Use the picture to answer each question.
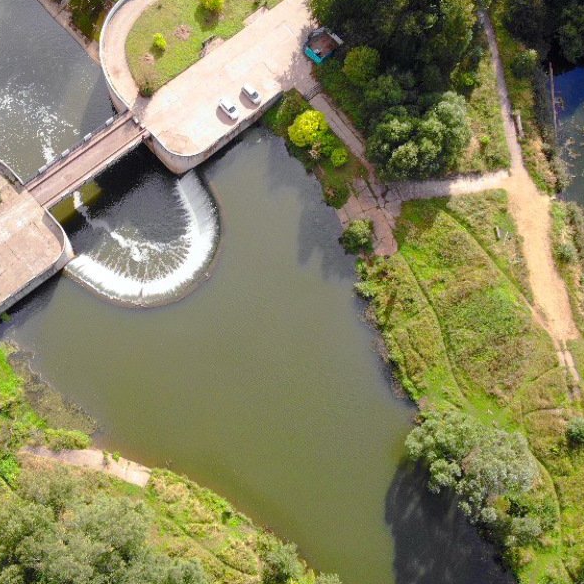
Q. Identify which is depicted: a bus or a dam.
dam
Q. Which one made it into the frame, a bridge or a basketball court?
bridge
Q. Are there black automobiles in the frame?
No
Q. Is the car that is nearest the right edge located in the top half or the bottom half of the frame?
top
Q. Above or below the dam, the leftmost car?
above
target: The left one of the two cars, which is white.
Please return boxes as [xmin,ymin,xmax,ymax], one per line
[215,99,239,121]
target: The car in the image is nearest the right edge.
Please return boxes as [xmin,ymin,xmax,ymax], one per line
[238,83,263,106]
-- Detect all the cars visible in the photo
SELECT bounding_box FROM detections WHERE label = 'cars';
[215,99,239,121]
[238,83,263,106]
